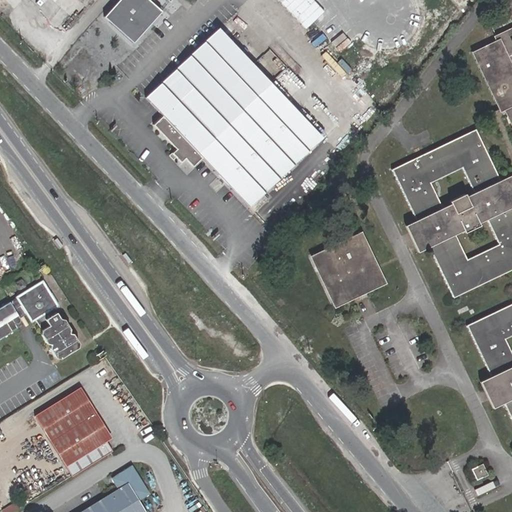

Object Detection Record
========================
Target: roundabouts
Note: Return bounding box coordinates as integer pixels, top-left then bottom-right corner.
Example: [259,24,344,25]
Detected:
[164,370,254,462]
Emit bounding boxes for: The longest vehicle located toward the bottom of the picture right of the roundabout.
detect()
[330,392,360,427]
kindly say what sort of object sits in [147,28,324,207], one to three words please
warehouse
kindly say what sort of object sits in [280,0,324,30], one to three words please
shed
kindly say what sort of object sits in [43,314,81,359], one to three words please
building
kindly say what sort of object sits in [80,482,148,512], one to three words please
building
